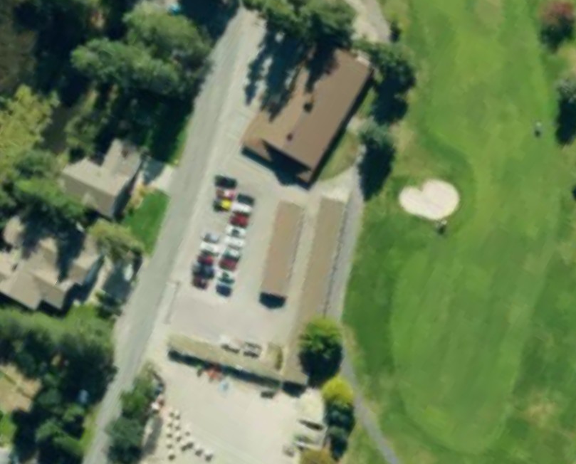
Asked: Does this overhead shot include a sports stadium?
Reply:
No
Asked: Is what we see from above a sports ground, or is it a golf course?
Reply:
golf course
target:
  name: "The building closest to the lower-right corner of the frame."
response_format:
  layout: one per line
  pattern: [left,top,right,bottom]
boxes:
[298,388,324,425]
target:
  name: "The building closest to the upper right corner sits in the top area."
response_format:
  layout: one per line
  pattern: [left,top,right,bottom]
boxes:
[244,39,369,185]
